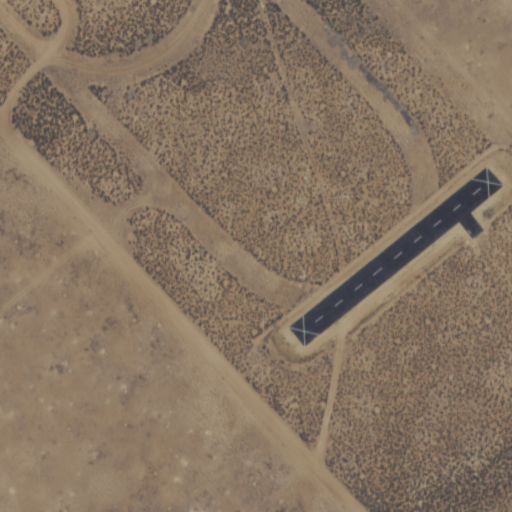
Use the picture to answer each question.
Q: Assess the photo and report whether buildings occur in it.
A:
No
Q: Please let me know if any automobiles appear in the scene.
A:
No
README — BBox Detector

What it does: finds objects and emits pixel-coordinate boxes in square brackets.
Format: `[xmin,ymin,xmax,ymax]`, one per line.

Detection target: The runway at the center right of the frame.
[290,168,502,346]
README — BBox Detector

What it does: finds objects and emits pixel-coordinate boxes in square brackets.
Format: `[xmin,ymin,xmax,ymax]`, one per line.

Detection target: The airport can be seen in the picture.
[268,145,512,360]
